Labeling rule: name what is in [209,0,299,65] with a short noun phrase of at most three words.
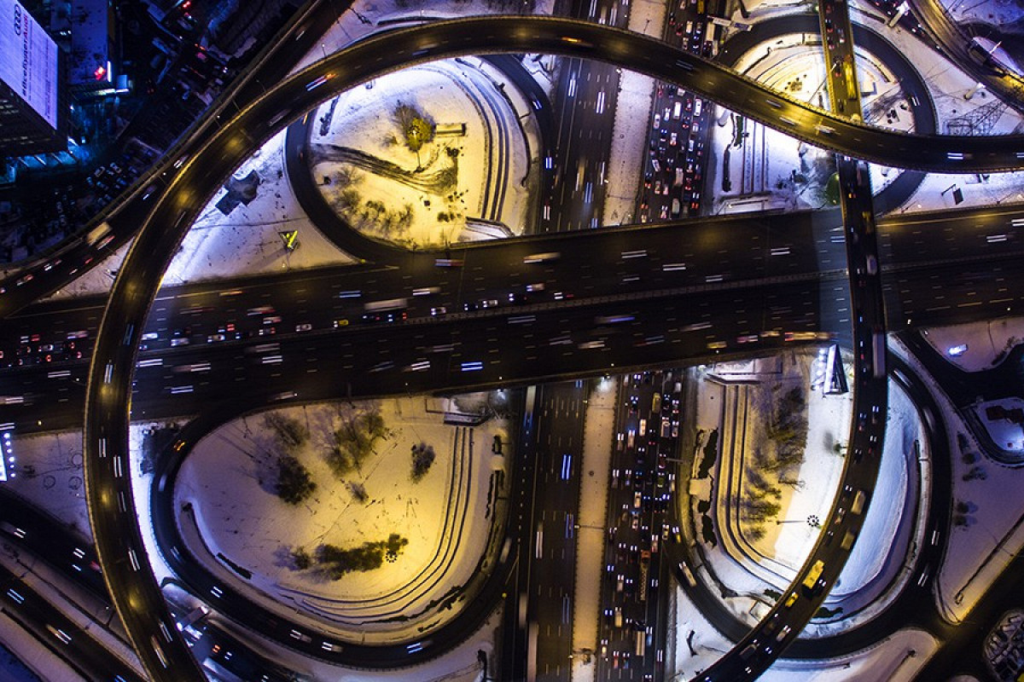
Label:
building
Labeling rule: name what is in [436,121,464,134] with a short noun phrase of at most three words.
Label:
shed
